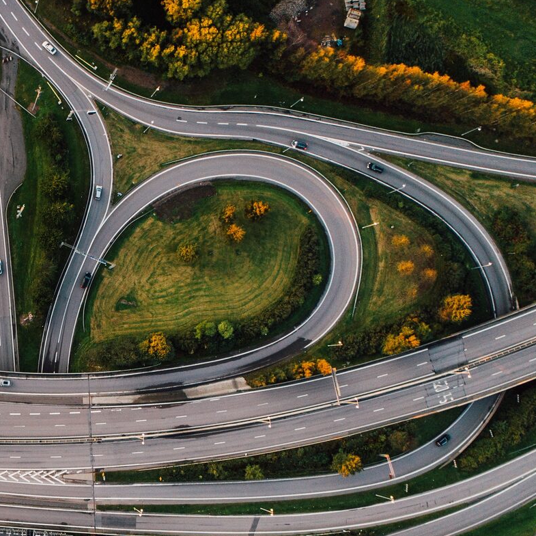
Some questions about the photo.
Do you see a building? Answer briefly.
No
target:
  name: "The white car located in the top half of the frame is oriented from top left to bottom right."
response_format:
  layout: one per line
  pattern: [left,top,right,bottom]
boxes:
[41,40,56,56]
